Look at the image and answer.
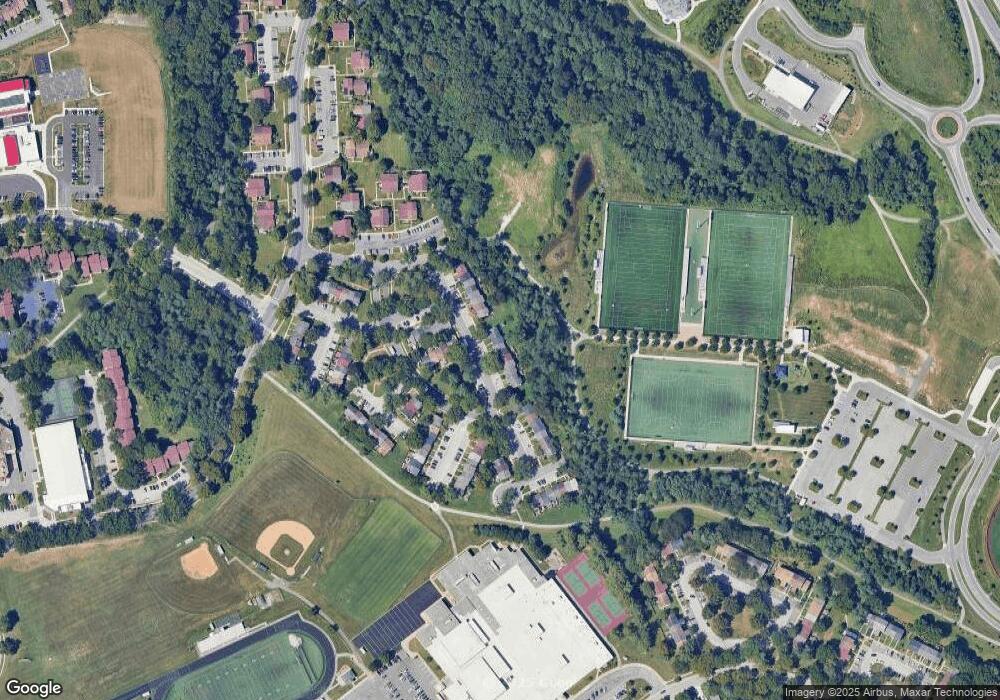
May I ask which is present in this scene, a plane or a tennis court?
tennis court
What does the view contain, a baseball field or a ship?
baseball field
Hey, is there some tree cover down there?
Yes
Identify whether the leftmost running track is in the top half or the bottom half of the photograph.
bottom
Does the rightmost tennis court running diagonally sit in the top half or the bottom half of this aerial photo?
bottom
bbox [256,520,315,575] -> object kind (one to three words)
baseball field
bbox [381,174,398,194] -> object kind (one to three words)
house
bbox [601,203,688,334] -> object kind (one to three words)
sports field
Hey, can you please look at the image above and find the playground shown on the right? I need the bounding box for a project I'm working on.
[772,362,810,385]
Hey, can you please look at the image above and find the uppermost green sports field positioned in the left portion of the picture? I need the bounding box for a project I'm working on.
[318,497,441,622]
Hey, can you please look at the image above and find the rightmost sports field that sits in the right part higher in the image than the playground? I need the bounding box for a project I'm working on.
[704,210,791,341]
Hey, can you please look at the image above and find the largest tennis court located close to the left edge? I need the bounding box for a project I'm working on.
[47,377,80,421]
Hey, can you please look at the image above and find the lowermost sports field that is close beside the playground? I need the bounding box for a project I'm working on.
[626,356,757,445]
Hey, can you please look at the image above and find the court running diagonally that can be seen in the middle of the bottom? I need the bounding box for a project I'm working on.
[558,553,627,635]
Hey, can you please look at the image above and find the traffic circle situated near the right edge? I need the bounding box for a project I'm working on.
[928,105,969,146]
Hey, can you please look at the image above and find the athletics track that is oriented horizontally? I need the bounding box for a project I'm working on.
[105,611,336,700]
